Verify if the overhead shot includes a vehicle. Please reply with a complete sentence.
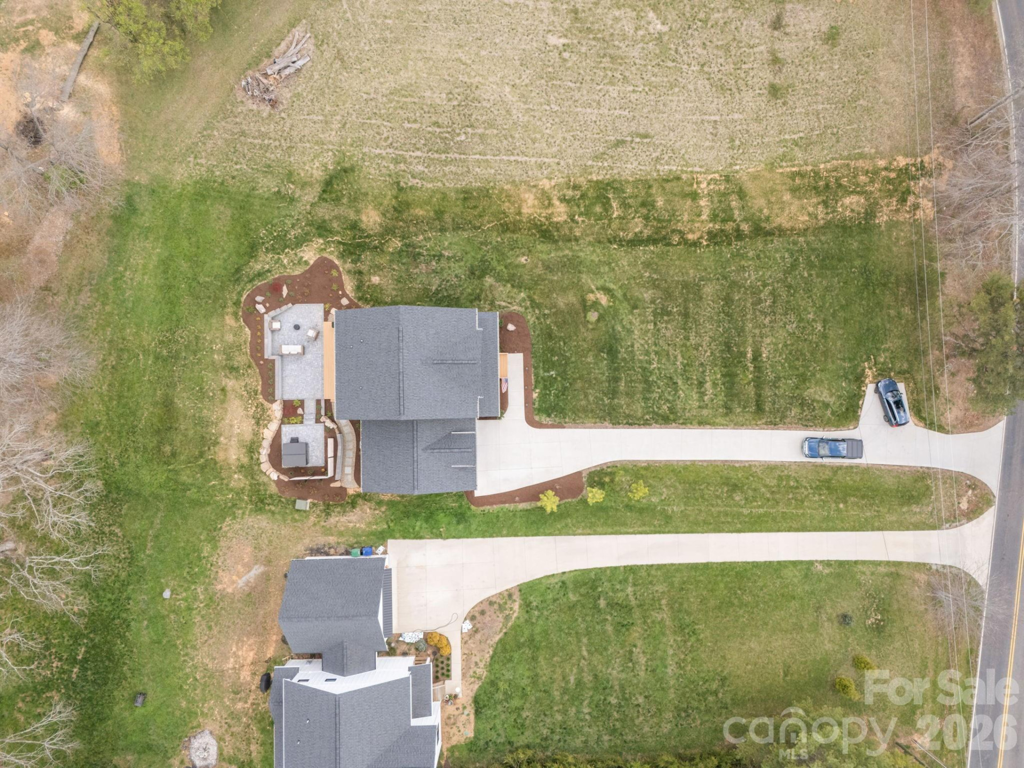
Yes, a vehicle is visible in the scene.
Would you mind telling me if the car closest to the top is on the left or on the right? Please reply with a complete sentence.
The car closest to the top is on the right side of the image.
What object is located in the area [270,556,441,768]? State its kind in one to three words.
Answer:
house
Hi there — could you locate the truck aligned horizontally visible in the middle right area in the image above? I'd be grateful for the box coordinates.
[800,436,862,462]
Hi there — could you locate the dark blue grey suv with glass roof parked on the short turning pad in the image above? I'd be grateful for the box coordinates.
[876,378,912,430]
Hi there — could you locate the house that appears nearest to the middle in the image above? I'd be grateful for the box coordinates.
[333,306,501,494]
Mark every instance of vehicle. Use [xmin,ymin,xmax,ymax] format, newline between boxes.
[800,436,862,462]
[876,378,912,430]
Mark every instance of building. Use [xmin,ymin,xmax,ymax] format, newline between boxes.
[270,556,441,768]
[333,306,501,494]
